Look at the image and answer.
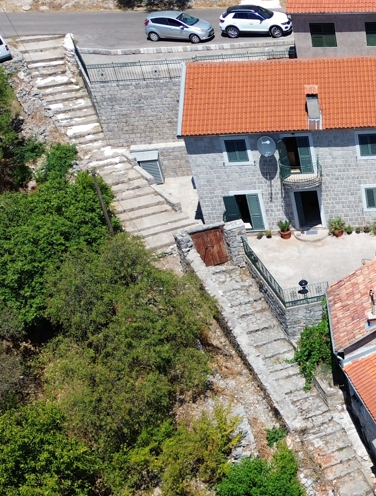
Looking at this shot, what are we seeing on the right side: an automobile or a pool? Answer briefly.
automobile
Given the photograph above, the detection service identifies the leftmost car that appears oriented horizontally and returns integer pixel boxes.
[137,8,216,43]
